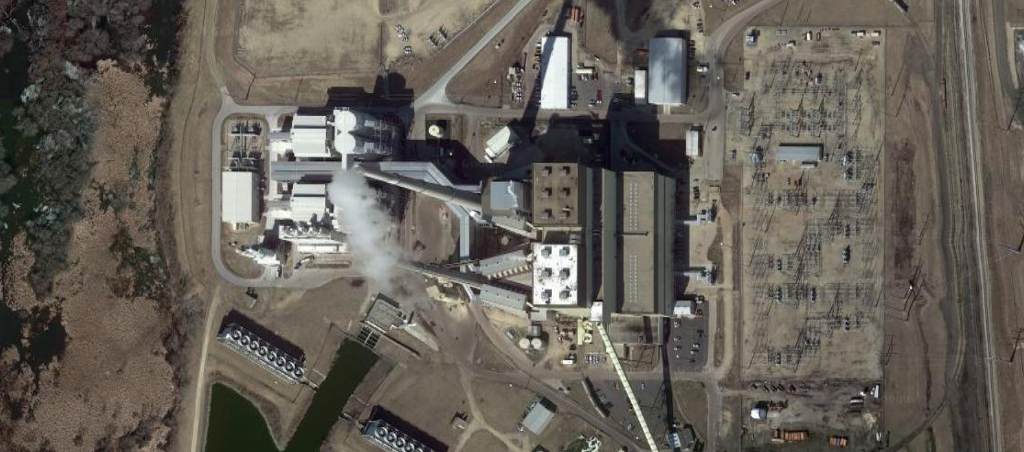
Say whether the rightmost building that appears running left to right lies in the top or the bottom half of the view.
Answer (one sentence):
Seen from above, the rightmost building that appears running left to right lies in the top half of the view.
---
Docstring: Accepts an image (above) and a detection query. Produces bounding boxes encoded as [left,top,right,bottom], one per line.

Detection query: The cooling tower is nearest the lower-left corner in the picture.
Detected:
[220,320,322,389]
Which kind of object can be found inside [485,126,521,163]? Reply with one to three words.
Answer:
house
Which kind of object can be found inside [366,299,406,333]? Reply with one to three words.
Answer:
house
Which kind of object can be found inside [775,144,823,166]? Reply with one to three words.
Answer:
building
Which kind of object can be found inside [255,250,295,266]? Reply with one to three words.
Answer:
shed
